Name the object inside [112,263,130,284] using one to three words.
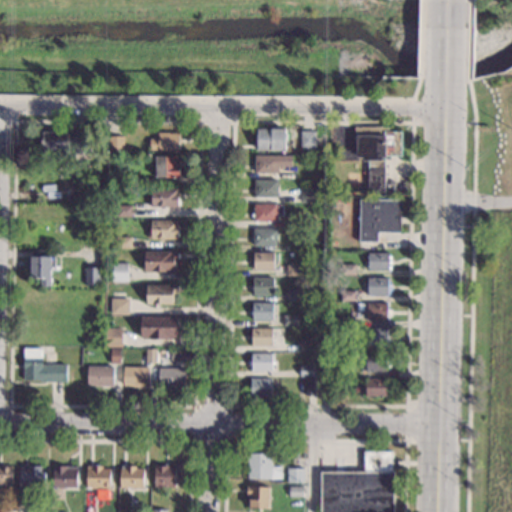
building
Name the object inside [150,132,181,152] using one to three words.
house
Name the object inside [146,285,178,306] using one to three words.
house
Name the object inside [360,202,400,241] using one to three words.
building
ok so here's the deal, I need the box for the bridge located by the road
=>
[418,0,477,80]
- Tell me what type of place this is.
residential area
